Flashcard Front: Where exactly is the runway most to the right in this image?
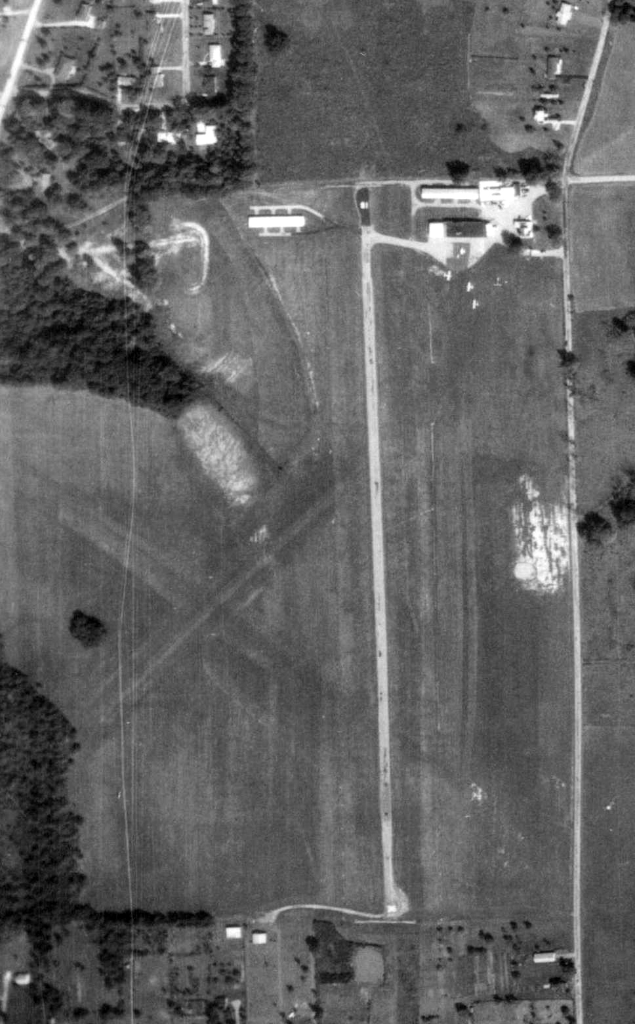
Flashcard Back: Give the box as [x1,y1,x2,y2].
[361,225,394,913]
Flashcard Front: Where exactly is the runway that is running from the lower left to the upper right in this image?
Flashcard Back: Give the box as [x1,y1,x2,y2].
[122,486,338,703]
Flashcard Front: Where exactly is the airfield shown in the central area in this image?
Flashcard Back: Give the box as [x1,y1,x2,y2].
[60,181,547,918]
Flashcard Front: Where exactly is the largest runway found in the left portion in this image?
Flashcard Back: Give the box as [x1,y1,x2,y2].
[60,504,276,726]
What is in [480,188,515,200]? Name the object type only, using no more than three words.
hangar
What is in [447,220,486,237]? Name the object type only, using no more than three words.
hangar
